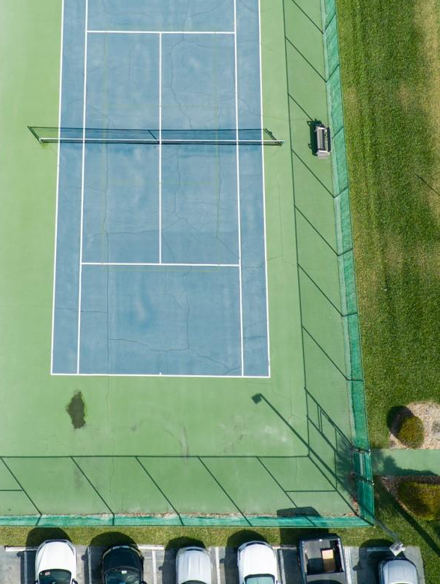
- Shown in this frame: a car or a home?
car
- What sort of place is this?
sports ground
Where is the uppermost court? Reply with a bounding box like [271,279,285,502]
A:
[0,0,357,516]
